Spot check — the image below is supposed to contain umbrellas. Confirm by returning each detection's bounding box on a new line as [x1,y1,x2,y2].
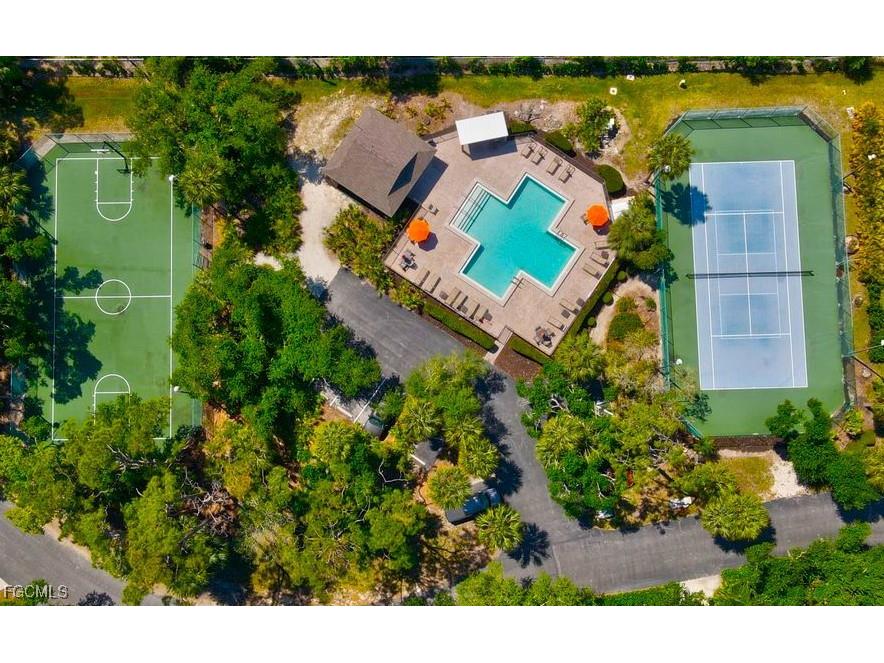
[406,221,431,246]
[589,206,613,230]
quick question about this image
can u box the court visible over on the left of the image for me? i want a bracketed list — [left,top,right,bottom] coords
[23,142,201,463]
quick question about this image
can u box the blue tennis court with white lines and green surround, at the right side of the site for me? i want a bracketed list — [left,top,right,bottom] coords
[659,117,846,437]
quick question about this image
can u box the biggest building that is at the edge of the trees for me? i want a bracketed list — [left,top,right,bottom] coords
[323,106,436,216]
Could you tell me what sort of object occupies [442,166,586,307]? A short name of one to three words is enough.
swimming pool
